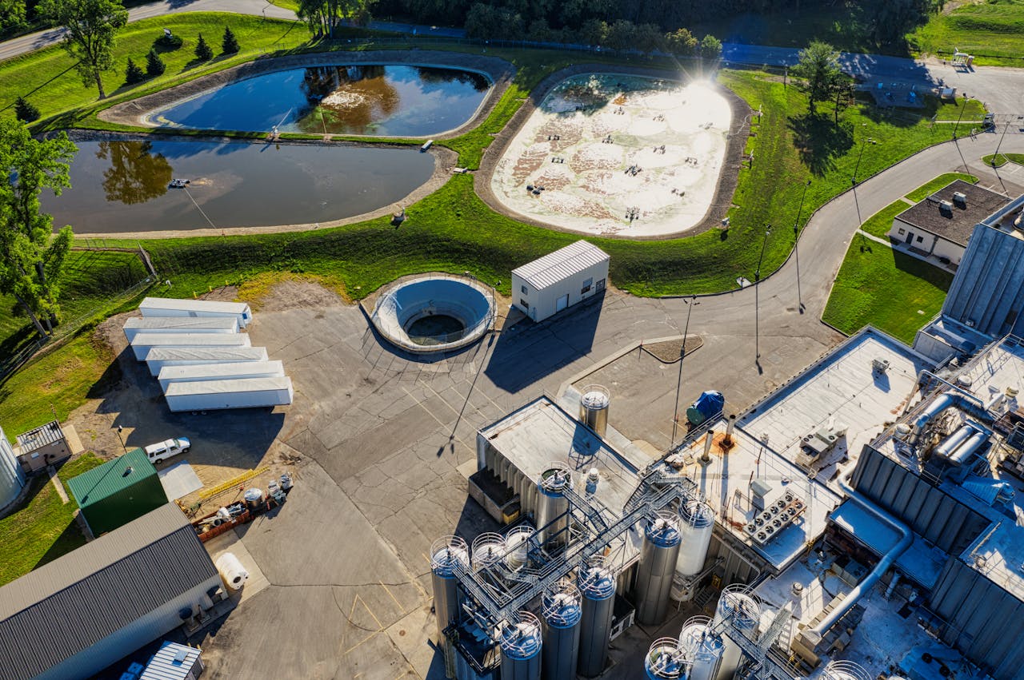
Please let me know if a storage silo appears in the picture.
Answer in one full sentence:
Yes, a storage silo can be made out from above.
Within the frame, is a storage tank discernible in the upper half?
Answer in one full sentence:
No, looking in the upper half, there is no storage tank.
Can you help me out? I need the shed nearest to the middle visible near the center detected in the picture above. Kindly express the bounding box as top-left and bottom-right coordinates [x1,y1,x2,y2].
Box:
[511,240,611,323]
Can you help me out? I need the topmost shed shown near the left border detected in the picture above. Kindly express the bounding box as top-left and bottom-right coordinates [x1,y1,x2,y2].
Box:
[16,420,71,470]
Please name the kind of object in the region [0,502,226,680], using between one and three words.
shed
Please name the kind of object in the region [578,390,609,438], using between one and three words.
silo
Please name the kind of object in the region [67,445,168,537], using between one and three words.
shed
